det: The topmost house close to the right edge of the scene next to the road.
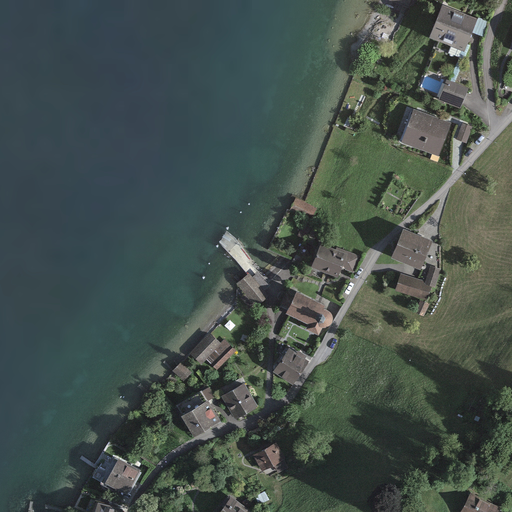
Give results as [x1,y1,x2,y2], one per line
[429,3,487,58]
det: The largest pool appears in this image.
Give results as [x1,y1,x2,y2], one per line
[421,76,442,94]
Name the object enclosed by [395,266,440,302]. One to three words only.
barn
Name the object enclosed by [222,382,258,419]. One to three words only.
house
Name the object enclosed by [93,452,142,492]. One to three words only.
house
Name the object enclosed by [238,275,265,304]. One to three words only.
building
